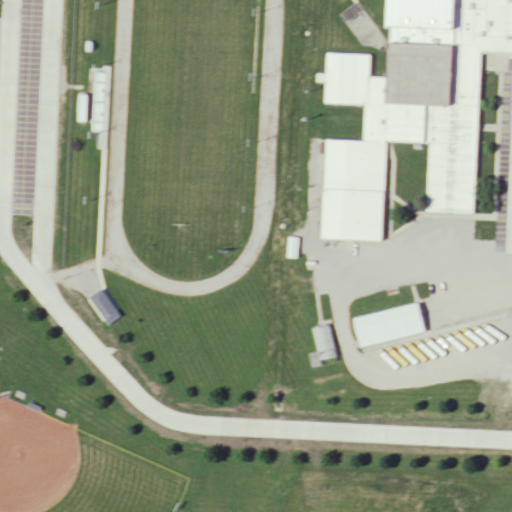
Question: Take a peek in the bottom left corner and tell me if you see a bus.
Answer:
No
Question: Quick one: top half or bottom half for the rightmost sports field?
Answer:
top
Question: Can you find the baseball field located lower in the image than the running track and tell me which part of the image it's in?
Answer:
bottom left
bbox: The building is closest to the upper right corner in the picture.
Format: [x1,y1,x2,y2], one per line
[315,0,512,241]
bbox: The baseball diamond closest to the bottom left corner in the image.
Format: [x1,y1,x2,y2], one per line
[0,400,188,512]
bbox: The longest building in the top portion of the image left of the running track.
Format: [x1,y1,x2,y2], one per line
[76,92,90,123]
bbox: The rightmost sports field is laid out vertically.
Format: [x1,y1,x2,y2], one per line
[123,0,266,281]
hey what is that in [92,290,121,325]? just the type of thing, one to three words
shed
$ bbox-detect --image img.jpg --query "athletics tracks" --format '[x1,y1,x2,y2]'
[105,0,286,297]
